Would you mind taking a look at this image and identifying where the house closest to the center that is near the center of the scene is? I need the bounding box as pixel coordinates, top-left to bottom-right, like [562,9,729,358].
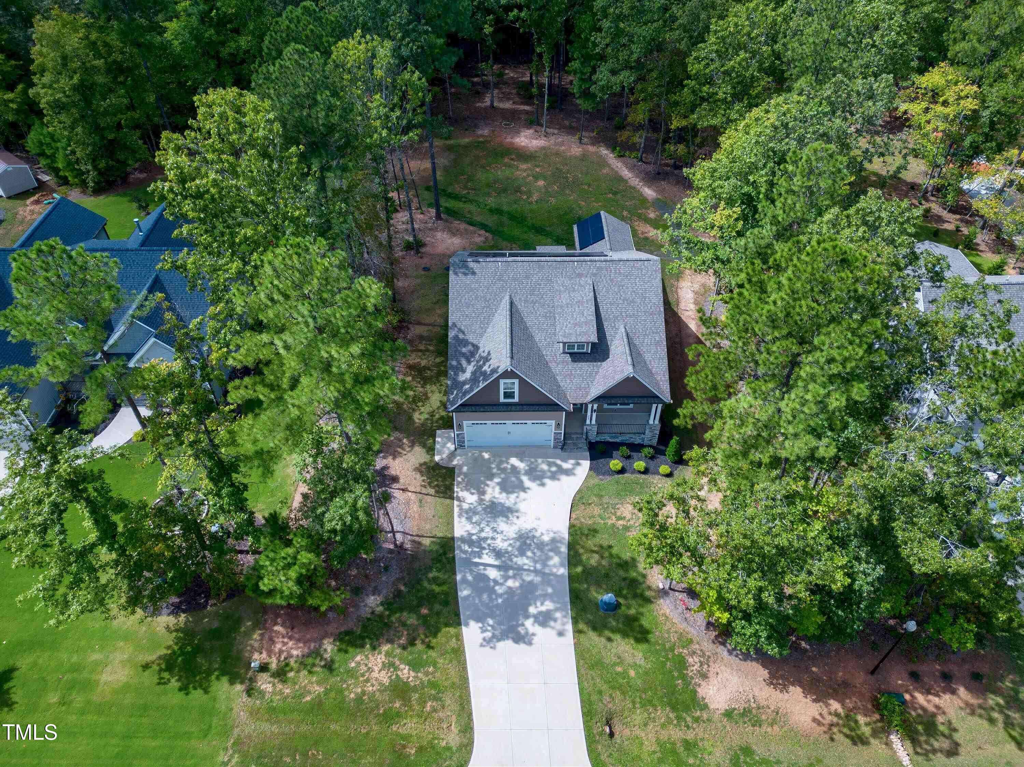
[446,210,673,452]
